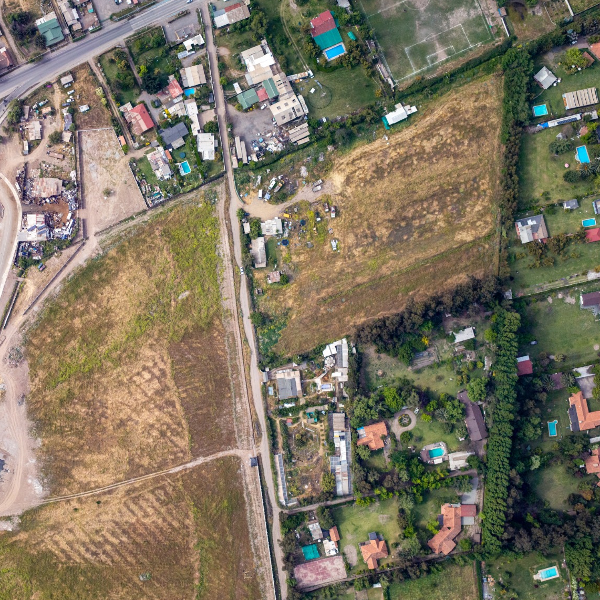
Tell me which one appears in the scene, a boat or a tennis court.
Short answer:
tennis court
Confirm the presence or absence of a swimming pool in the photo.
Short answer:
Yes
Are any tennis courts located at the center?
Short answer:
No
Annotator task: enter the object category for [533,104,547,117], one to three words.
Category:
swimming pool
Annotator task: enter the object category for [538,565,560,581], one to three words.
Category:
swimming pool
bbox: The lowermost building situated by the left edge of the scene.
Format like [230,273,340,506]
[18,214,48,242]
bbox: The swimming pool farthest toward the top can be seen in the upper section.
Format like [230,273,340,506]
[323,42,347,62]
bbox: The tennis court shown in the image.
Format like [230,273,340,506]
[293,556,347,591]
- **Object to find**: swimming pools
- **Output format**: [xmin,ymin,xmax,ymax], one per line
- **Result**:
[184,87,195,97]
[549,417,558,436]
[581,218,597,227]
[423,442,449,463]
[319,382,334,392]
[323,42,347,62]
[572,146,589,164]
[179,158,192,177]
[538,565,560,581]
[533,104,547,117]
